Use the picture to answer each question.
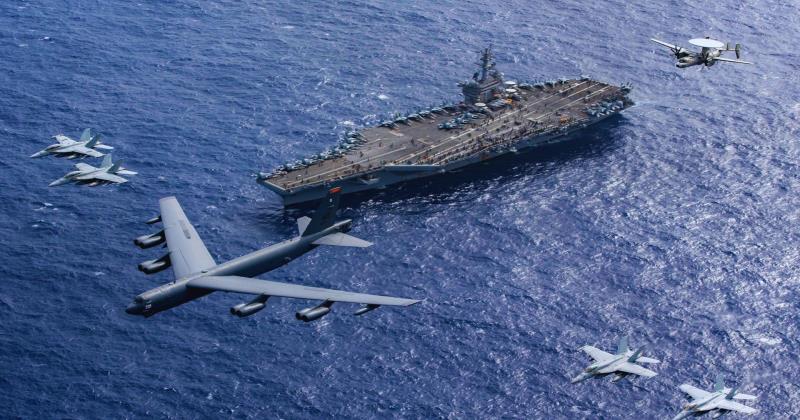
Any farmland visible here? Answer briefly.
No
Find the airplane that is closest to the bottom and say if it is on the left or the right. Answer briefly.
right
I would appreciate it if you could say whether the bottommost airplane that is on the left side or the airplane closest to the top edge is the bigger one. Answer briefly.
the bottommost airplane that is on the left side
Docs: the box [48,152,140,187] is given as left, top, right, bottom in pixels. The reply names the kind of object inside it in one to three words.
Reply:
airplane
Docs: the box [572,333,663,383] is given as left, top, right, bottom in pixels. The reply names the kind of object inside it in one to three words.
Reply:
airplane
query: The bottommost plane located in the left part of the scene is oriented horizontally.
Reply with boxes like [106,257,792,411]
[124,187,420,325]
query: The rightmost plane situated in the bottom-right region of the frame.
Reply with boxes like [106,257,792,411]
[672,372,759,420]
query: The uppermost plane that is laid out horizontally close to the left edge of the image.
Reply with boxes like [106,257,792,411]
[31,126,116,158]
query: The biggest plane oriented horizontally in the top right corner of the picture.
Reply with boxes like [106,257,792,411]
[652,35,754,70]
